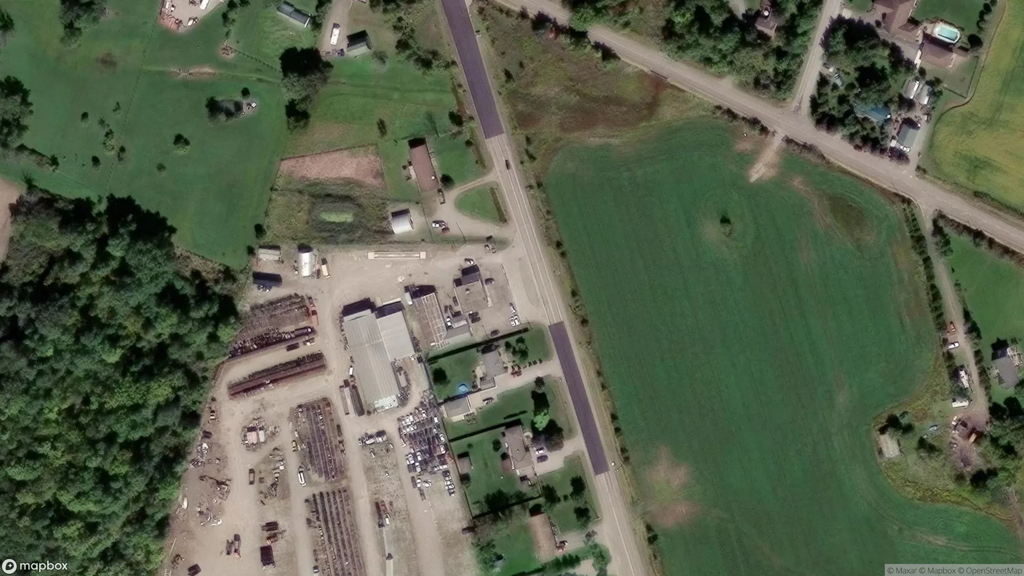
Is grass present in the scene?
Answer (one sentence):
Yes, there is grass in the image.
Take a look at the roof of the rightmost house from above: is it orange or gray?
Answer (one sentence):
In this view, the roof of the rightmost house is gray.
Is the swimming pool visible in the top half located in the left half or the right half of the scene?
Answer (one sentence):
You can find the swimming pool visible in the top half on the right side of the picture.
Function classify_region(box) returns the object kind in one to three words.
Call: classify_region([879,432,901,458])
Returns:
shed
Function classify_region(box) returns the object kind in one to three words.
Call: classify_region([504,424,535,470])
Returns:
house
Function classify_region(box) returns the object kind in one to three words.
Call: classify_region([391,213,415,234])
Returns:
barn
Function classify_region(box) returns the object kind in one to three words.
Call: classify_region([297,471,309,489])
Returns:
vehicle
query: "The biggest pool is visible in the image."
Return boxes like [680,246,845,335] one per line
[934,24,960,44]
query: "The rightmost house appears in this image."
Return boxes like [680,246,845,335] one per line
[992,355,1020,389]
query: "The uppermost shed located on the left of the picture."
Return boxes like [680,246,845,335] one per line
[277,1,312,27]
